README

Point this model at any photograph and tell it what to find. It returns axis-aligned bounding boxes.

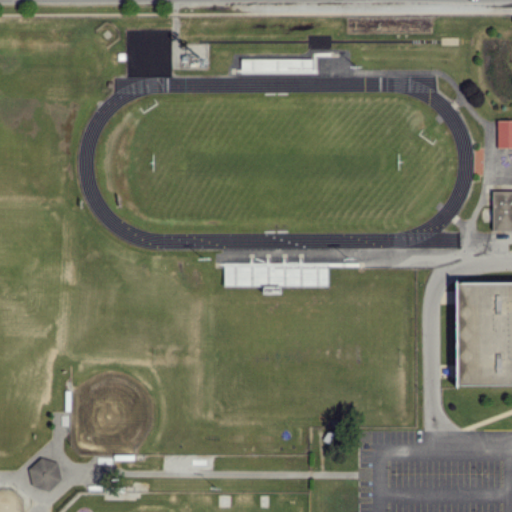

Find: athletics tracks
[78,76,473,250]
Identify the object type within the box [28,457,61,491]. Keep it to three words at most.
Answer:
building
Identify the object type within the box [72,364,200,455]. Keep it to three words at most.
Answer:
baseball field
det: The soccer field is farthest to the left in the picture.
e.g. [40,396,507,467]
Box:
[0,202,60,438]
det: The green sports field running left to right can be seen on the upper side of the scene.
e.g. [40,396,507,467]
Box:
[94,92,458,234]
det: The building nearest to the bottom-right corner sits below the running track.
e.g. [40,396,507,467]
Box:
[456,280,512,388]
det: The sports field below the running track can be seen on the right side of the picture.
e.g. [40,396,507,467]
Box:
[206,298,414,426]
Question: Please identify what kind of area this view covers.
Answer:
sports ground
